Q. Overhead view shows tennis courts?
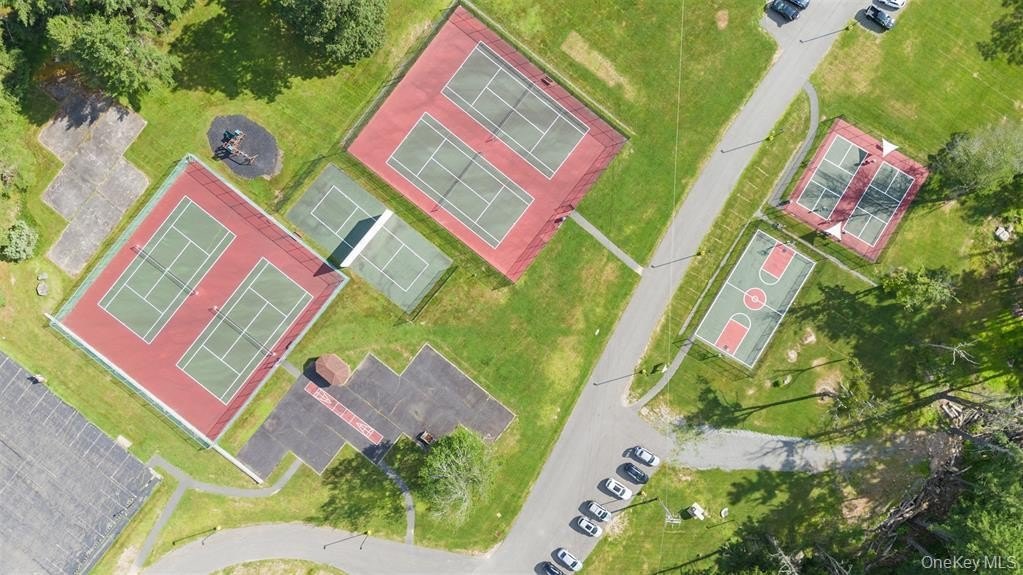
Yes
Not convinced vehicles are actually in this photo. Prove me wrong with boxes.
[622,461,651,485]
[770,0,800,22]
[539,559,564,575]
[633,445,660,468]
[575,515,602,537]
[604,476,633,500]
[862,3,896,30]
[877,0,905,9]
[587,499,612,522]
[556,547,583,571]
[787,0,812,10]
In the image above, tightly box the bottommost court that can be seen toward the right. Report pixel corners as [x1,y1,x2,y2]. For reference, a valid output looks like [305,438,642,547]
[694,230,816,368]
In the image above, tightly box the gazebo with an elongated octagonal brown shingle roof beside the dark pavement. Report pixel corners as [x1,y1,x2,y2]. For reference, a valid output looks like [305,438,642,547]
[316,352,353,385]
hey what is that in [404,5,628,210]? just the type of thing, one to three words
tennis court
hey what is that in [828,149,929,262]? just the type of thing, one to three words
sports court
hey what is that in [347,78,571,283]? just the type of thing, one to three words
tennis court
